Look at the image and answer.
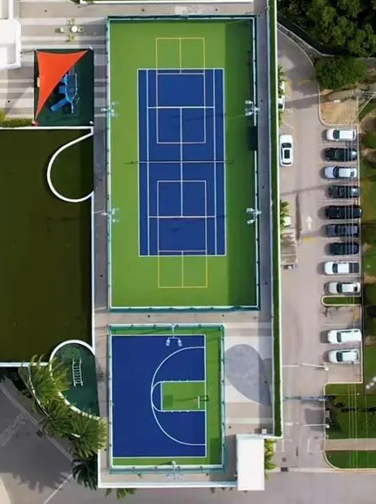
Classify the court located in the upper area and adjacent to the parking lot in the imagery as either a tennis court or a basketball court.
tennis court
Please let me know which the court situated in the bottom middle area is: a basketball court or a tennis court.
basketball court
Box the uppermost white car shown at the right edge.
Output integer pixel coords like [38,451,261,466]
[324,127,358,143]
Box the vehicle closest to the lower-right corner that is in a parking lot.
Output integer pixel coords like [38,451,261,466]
[327,348,362,365]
